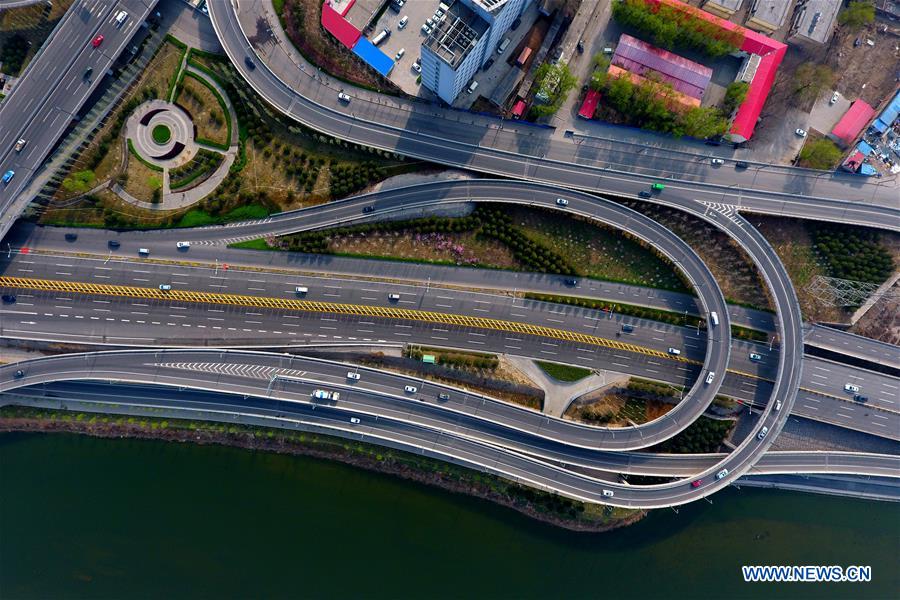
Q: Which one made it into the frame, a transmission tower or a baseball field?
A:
transmission tower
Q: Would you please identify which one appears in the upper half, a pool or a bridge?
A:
bridge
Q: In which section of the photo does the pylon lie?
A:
right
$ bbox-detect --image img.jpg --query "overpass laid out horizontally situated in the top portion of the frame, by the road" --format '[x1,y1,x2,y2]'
[207,0,900,232]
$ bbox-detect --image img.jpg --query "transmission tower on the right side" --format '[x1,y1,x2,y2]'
[806,275,886,307]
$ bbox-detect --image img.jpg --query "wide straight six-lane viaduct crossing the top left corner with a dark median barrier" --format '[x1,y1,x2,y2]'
[0,0,160,222]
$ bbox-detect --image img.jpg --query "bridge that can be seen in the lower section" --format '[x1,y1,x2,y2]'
[0,349,279,401]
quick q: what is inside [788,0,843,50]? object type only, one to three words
house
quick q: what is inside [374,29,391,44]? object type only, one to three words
vehicle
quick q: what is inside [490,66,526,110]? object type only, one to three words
shed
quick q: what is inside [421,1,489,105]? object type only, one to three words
building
